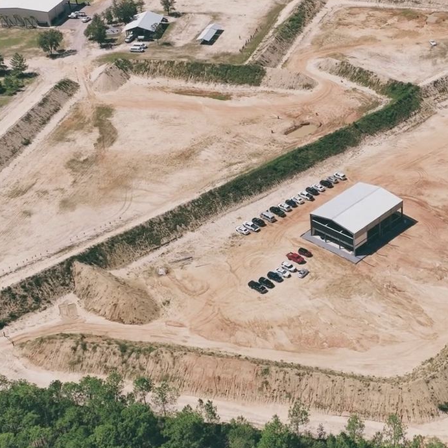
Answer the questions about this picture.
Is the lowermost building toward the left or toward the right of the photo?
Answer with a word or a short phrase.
right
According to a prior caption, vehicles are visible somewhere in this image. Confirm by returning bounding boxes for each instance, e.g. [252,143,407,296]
[333,171,349,180]
[296,245,315,258]
[279,259,299,272]
[319,179,335,188]
[266,271,285,283]
[259,209,278,222]
[325,177,341,185]
[242,220,262,233]
[275,267,293,278]
[130,47,145,54]
[70,13,82,18]
[284,199,300,209]
[133,43,147,49]
[251,217,268,227]
[277,202,293,212]
[429,40,439,46]
[258,276,276,288]
[294,267,313,280]
[269,205,288,217]
[304,186,321,195]
[247,280,270,294]
[312,184,328,192]
[235,226,252,236]
[298,190,317,201]
[285,251,308,264]
[290,196,307,204]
